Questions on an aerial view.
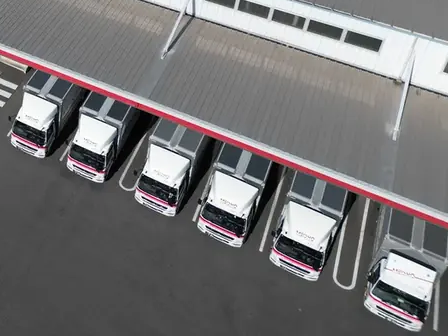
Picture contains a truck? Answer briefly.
Yes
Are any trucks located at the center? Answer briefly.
Yes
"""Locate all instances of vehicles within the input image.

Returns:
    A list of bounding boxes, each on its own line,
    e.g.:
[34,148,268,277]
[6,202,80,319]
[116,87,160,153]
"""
[133,119,208,217]
[270,169,346,283]
[64,92,140,182]
[366,201,448,332]
[196,142,269,246]
[7,71,86,158]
